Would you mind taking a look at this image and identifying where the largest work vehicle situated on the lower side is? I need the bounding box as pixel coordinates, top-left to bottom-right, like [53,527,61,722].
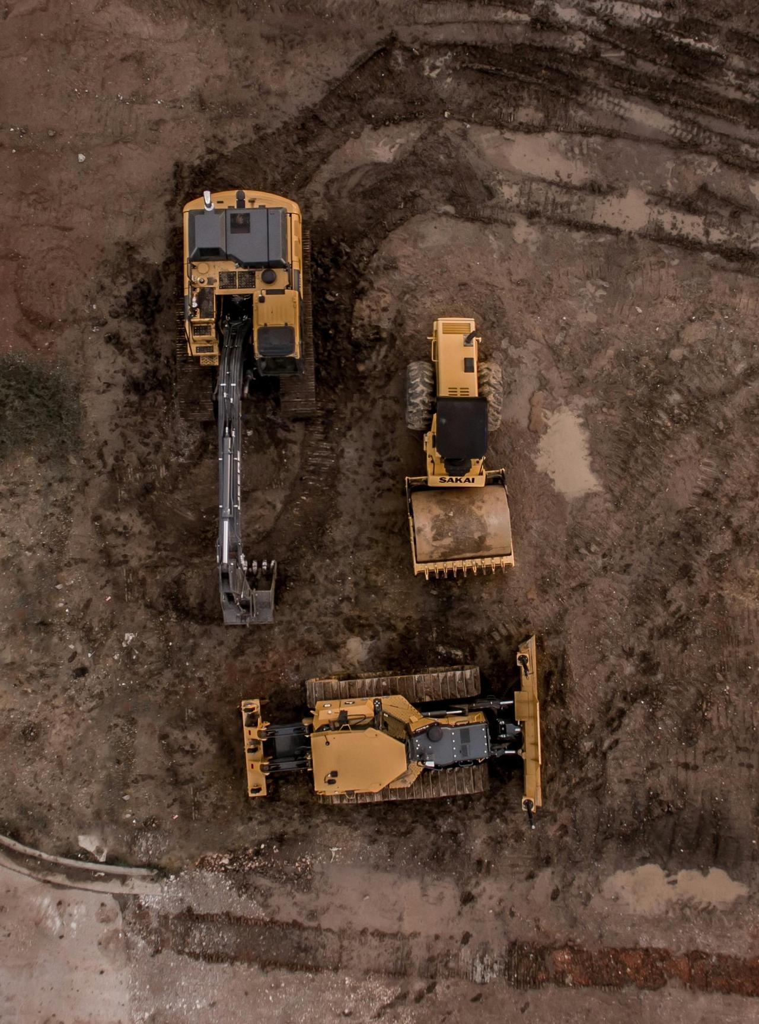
[242,629,542,829]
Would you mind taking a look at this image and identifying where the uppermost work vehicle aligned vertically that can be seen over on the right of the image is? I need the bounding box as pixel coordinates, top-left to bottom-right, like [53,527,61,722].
[405,318,516,582]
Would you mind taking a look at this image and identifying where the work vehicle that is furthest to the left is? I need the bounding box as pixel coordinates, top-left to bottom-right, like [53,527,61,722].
[177,190,318,629]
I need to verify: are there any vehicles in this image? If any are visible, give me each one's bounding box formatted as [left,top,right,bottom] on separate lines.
[405,318,516,582]
[177,190,318,629]
[242,629,542,829]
